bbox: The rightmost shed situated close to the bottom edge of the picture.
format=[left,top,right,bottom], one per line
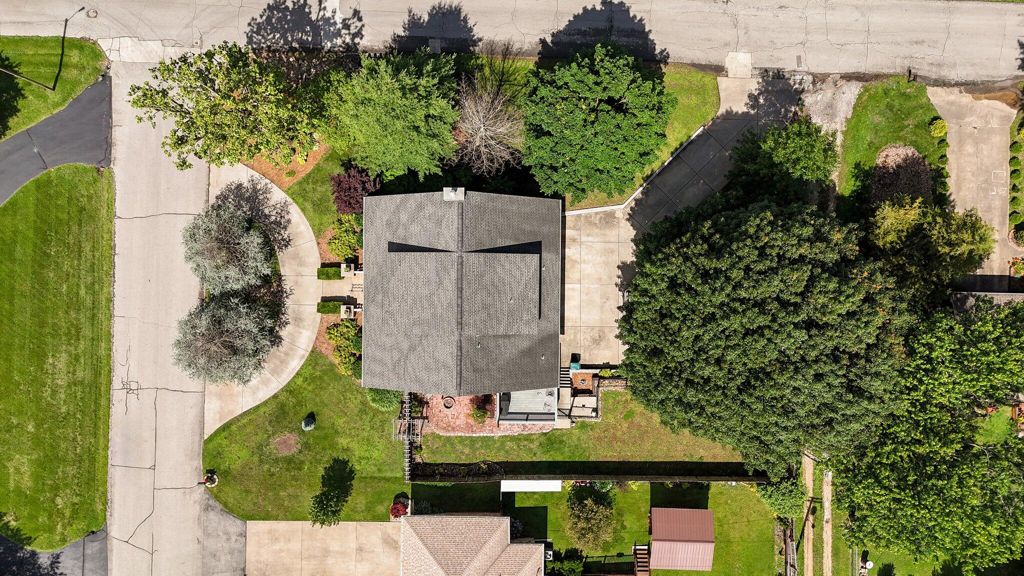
[647,504,715,571]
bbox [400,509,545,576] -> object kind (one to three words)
house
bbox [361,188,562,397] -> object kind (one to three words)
house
